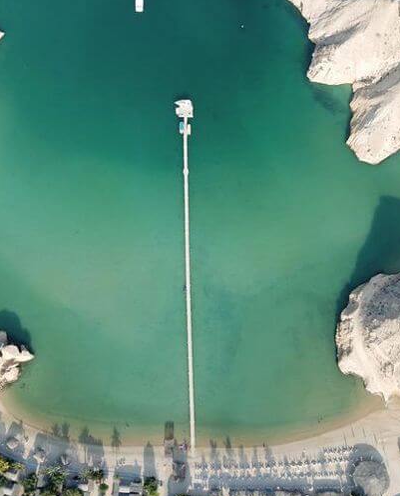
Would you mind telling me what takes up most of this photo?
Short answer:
water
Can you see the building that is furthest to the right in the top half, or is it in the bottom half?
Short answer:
bottom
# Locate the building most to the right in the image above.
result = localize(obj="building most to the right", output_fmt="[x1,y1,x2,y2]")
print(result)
[353,463,389,496]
